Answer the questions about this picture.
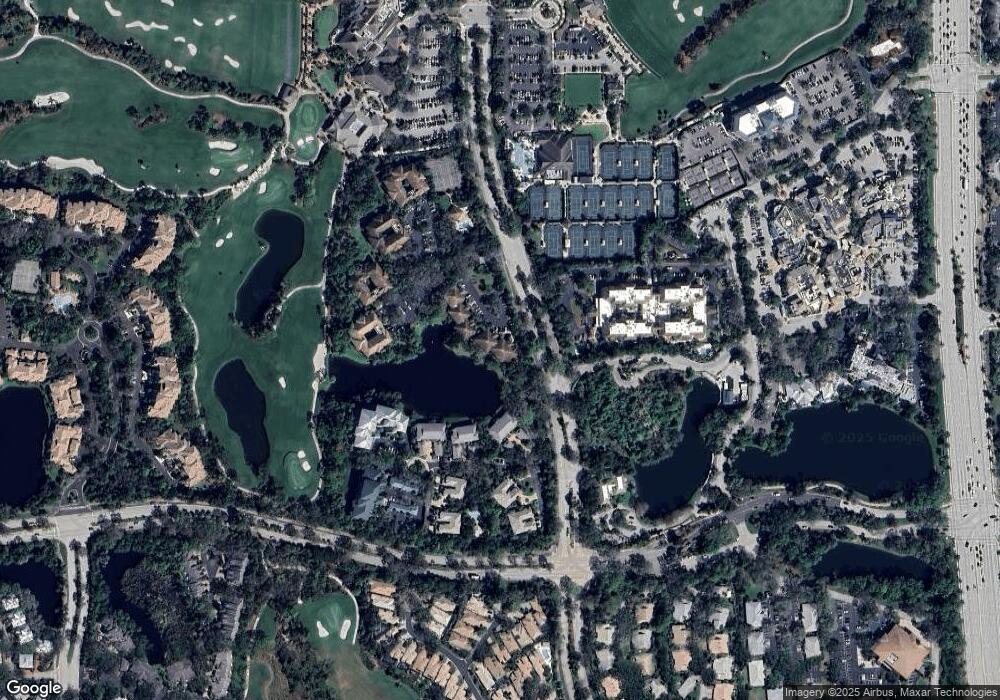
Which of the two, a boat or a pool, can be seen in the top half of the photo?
pool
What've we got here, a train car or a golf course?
golf course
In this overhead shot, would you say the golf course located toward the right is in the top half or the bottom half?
top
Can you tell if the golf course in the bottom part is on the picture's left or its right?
left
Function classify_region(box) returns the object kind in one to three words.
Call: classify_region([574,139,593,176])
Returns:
tennis court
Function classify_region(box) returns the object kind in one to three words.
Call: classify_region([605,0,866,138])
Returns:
golf course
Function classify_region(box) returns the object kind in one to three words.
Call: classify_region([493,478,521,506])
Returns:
house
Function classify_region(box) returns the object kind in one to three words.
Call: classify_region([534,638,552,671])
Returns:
swimming pool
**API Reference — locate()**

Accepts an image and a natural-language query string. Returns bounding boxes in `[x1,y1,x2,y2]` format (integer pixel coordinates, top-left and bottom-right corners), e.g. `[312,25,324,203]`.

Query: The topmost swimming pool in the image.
[508,138,536,186]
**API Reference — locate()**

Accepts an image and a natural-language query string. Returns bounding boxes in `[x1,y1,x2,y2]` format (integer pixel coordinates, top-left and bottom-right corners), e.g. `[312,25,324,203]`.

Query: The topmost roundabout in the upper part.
[530,0,562,28]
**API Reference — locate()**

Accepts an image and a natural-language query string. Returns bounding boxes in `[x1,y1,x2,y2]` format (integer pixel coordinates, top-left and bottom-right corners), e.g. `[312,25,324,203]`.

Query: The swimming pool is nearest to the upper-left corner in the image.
[48,288,78,313]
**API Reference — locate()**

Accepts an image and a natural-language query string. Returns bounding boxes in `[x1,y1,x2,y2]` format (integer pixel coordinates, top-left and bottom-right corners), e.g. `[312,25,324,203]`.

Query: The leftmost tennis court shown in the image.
[13,260,41,293]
